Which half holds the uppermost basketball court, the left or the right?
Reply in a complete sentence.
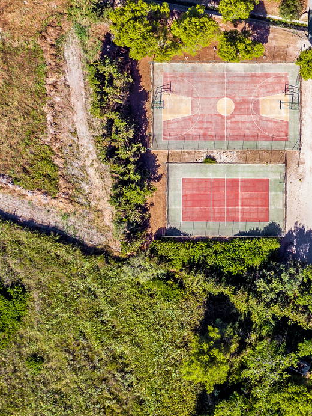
You can find the uppermost basketball court on the right side of the picture.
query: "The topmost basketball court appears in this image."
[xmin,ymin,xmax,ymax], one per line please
[153,63,298,148]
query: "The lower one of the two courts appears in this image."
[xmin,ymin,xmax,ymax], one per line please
[168,163,285,237]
